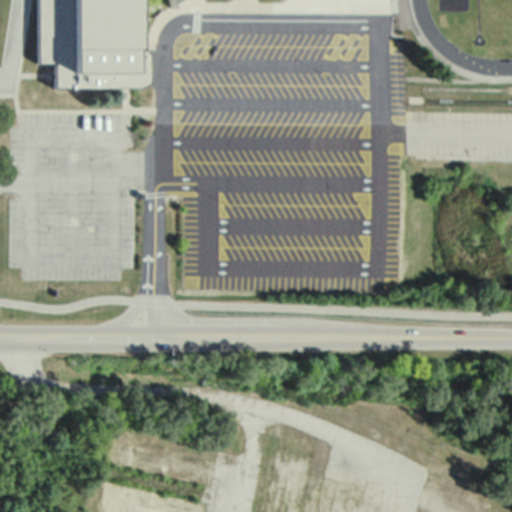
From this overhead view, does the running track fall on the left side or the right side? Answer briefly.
right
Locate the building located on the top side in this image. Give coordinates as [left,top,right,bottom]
[38,0,153,90]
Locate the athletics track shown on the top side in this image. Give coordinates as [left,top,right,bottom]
[410,0,512,79]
